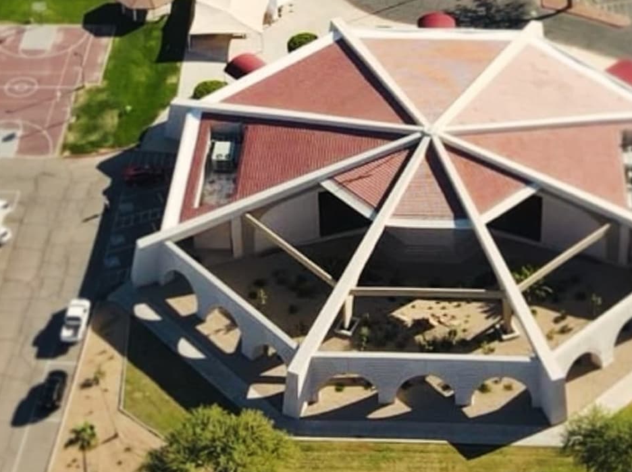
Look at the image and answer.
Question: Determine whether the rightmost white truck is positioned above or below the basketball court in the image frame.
below it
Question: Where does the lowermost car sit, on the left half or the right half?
left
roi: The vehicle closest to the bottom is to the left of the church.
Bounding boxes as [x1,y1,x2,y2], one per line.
[35,370,71,416]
